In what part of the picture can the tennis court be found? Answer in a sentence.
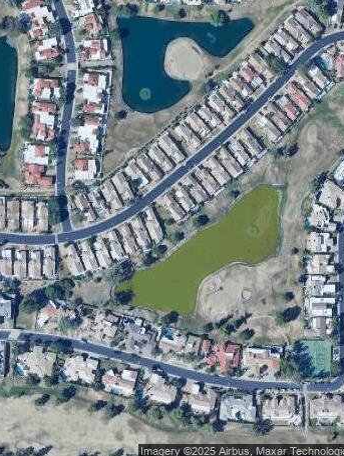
Look in the bottom right portion of the view to spot the tennis court.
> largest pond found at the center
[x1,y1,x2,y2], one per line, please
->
[115,184,282,314]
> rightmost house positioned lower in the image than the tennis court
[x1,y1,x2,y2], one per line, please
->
[312,394,344,425]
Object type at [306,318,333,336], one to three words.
house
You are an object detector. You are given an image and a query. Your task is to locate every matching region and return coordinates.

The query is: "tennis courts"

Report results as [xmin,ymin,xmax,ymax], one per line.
[301,339,331,376]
